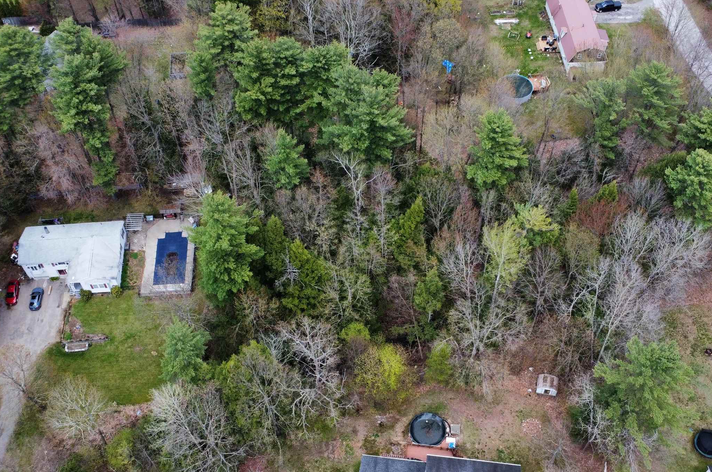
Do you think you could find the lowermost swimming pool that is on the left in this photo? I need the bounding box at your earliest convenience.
[140,218,196,298]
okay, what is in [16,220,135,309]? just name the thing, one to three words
house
